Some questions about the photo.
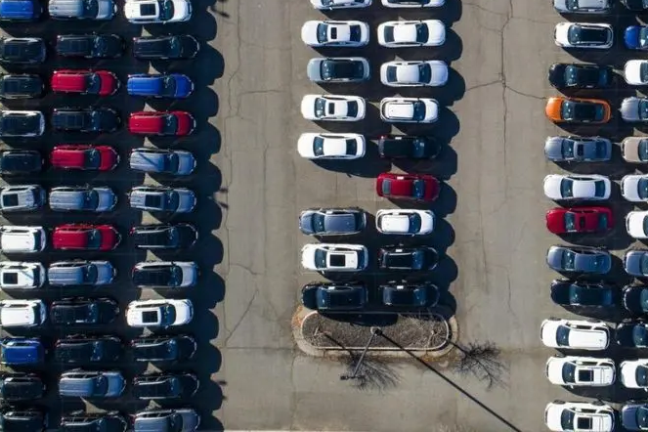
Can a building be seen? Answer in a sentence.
No, the picture doesn't show any building.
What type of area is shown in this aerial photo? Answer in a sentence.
This image shows a parking lot.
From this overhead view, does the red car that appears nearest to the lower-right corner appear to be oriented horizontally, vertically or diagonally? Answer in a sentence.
The red car that appears nearest to the lower-right corner has been laid out horizontally relative to the frame.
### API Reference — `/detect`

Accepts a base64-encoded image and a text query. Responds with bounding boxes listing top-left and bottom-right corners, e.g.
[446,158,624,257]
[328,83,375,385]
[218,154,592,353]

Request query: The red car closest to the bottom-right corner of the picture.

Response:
[546,205,615,236]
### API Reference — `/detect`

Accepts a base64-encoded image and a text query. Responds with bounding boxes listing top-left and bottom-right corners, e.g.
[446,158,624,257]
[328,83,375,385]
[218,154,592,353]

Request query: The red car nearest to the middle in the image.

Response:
[377,173,441,203]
